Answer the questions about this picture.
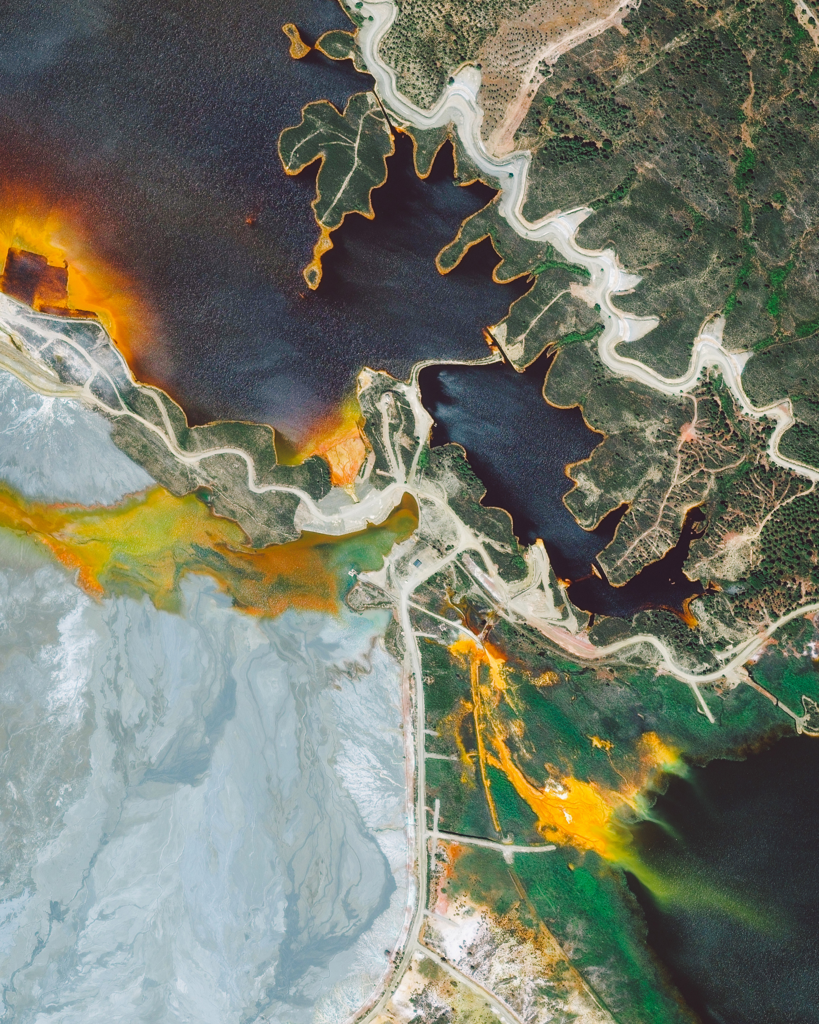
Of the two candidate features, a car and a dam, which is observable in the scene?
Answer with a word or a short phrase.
dam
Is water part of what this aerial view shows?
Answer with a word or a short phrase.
Yes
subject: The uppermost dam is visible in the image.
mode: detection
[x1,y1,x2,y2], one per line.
[294,479,412,536]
